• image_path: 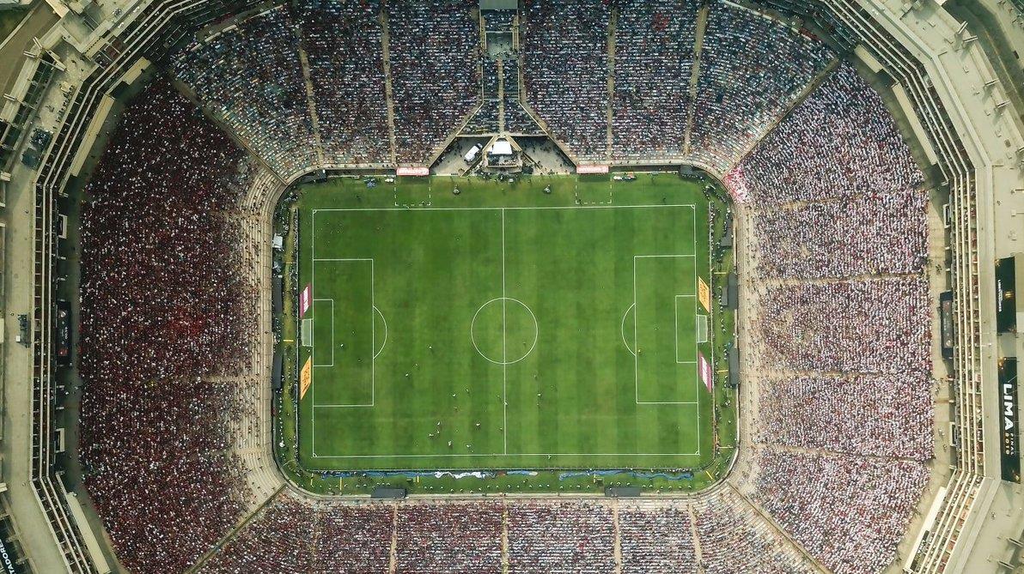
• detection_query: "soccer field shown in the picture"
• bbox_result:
[299,172,713,469]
